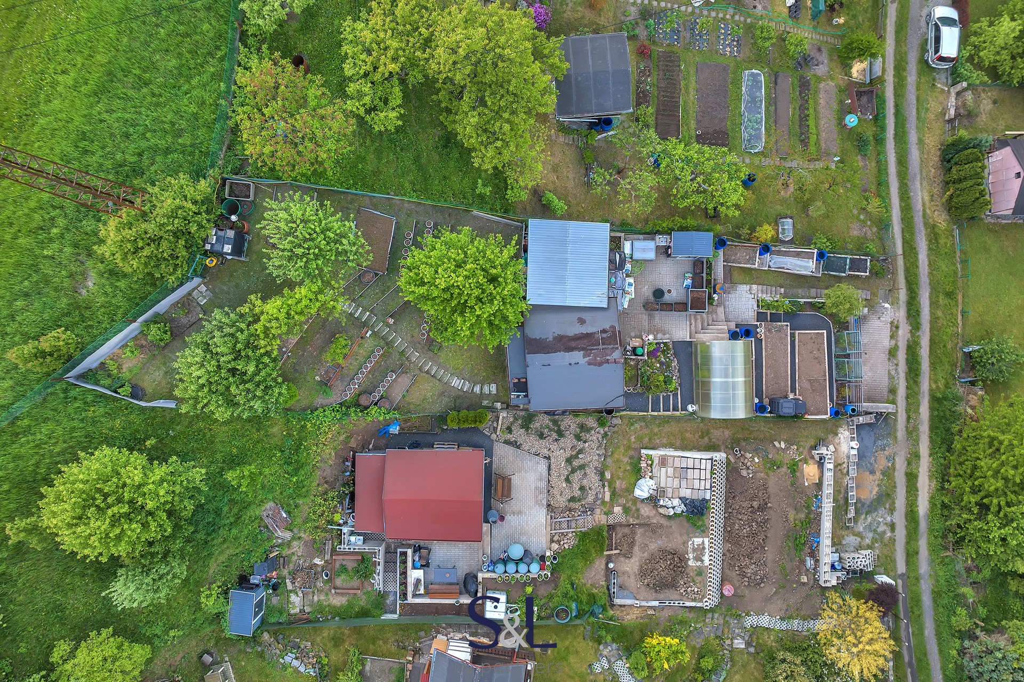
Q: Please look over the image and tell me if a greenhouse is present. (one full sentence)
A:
Yes, the image includes a greenhouse.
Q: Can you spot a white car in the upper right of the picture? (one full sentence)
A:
Yes, looking in the upper right of the picture, one can make out a white car.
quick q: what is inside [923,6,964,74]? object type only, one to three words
car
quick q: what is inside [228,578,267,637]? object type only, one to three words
shed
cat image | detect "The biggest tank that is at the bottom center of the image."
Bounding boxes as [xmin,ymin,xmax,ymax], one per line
[486,585,507,619]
